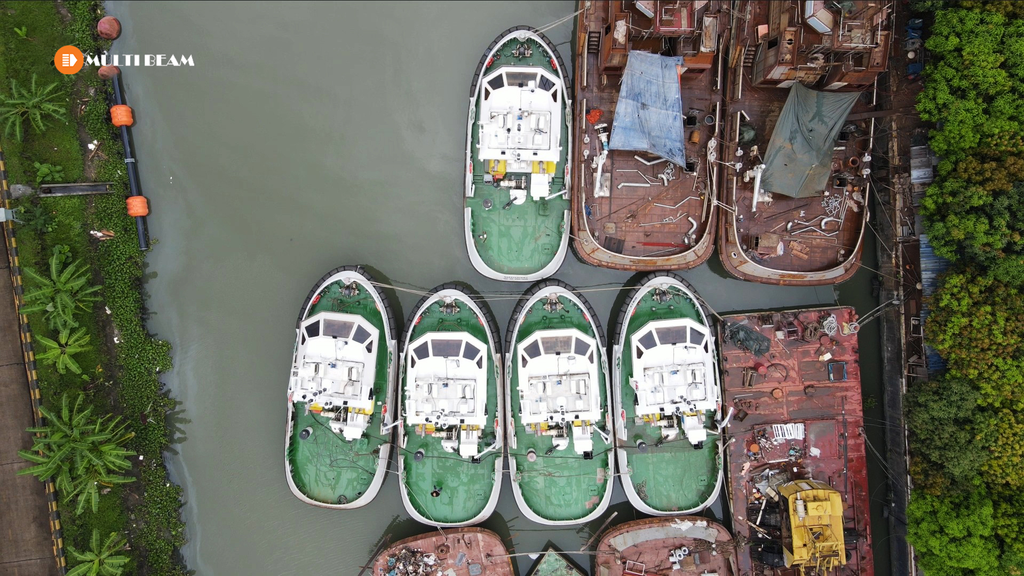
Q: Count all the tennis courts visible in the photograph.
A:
zero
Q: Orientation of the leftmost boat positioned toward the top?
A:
up and down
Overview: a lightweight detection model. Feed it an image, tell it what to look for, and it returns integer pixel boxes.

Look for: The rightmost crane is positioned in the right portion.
[748,163,777,211]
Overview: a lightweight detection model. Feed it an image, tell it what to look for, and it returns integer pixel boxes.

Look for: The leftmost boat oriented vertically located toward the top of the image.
[466,26,574,281]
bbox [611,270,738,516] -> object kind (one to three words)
boat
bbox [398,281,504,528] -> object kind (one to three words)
boat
